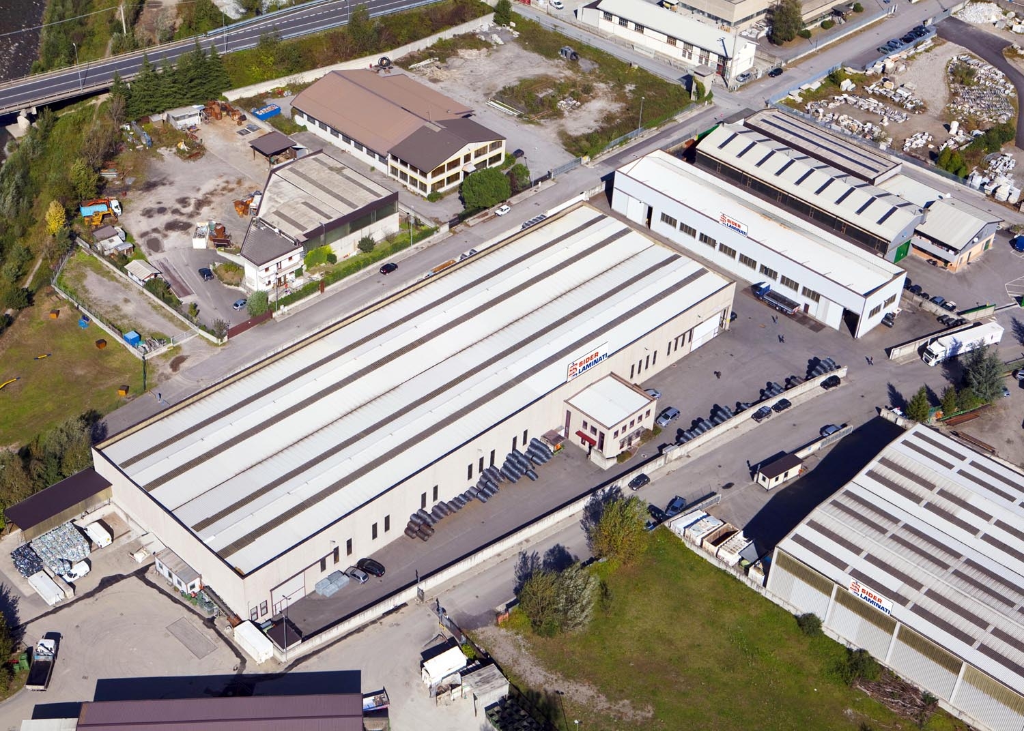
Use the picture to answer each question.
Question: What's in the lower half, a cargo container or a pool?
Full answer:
It is a cargo container that can be seen in the lower half.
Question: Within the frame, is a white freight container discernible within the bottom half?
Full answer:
Yes, within the bottom half there is a white freight container.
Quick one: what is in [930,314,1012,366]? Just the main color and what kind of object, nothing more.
white truck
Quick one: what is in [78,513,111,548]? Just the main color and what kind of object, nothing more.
white van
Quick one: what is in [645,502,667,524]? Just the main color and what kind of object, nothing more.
black car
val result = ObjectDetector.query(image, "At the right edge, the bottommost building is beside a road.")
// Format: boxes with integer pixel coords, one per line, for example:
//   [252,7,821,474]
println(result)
[767,420,1024,731]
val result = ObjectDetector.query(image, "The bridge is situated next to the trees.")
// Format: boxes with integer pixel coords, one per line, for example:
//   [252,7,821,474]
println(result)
[0,37,184,142]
